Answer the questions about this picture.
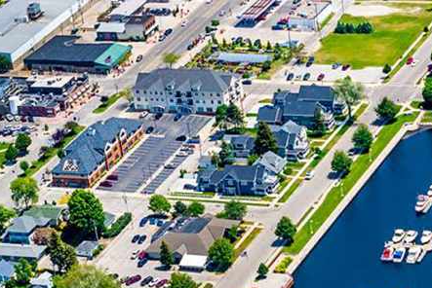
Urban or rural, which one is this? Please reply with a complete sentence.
It looks urban.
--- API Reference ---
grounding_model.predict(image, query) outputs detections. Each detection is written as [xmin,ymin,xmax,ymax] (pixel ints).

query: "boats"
[391,245,407,265]
[406,228,420,245]
[420,228,432,245]
[403,243,423,266]
[379,244,394,263]
[392,227,407,243]
[413,195,429,214]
